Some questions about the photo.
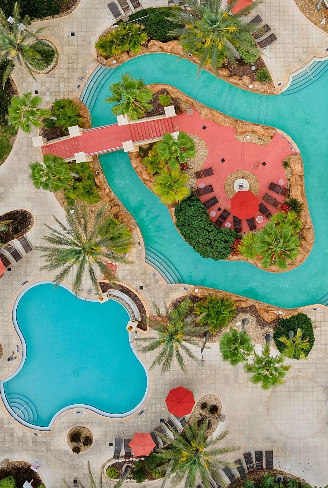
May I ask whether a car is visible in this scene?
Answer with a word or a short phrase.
No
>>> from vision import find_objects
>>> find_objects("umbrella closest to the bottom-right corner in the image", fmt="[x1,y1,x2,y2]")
[165,384,196,416]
